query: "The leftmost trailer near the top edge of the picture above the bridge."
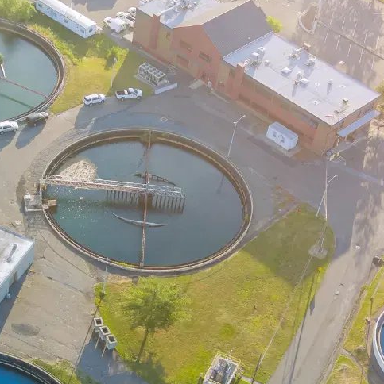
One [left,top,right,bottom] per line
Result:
[23,0,98,36]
